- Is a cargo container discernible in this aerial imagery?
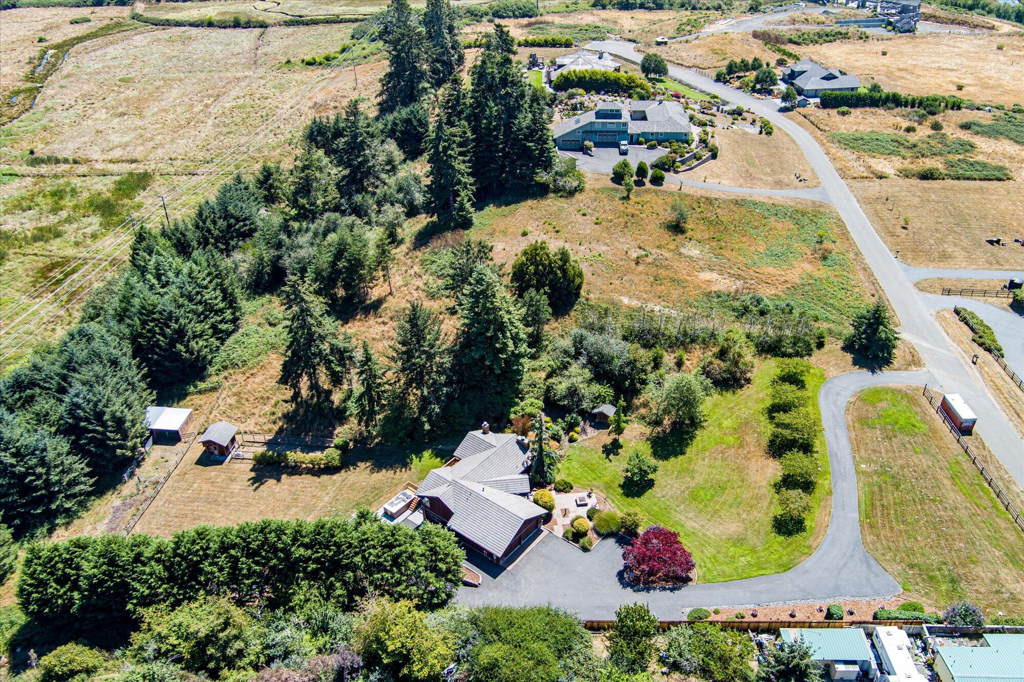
Yes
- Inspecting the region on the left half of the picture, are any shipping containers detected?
No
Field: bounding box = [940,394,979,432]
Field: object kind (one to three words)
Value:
shipping container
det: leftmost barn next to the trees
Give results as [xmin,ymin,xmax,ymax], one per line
[146,403,200,444]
